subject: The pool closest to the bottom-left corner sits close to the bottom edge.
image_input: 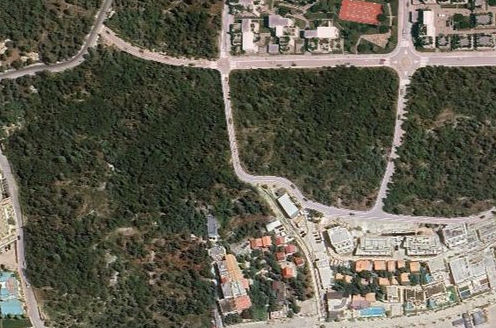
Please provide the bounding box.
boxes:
[0,298,24,318]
